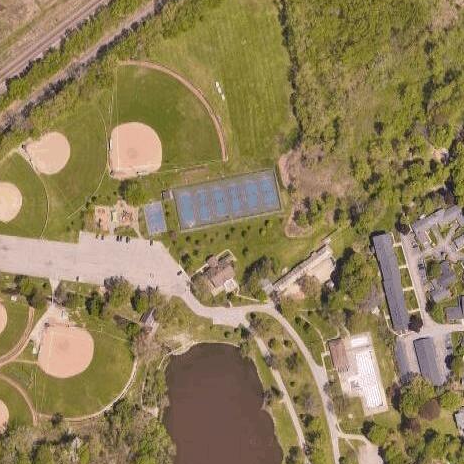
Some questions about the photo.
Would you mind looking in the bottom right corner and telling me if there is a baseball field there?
No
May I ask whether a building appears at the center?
Yes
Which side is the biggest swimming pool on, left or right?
right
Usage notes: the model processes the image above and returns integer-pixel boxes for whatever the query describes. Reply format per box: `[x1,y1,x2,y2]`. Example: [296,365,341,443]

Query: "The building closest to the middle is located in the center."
[206,255,236,292]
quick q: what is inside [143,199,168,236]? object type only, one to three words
basketball court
